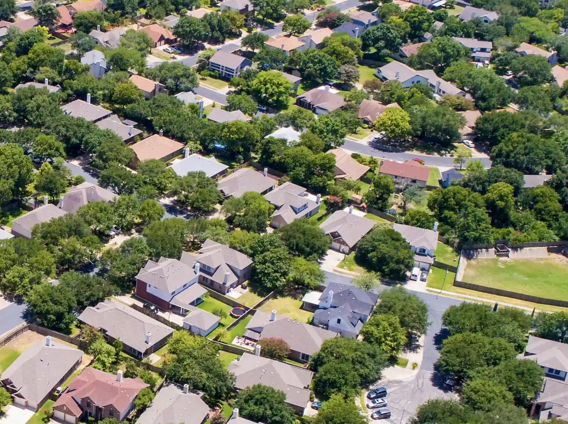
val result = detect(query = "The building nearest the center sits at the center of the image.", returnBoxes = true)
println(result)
[267,182,321,232]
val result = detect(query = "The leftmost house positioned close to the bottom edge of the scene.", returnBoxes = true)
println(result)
[0,335,91,415]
